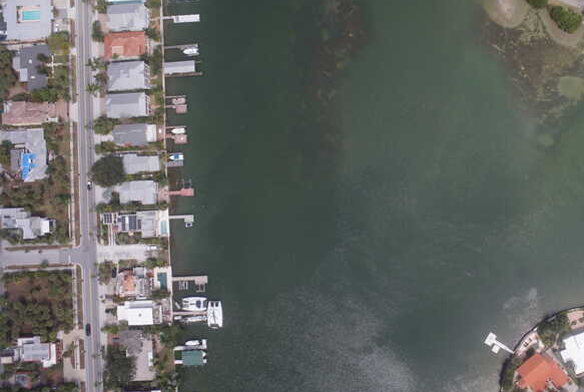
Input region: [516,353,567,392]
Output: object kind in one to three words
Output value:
house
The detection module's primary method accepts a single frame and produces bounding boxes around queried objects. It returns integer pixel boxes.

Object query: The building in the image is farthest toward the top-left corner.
[4,0,57,43]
